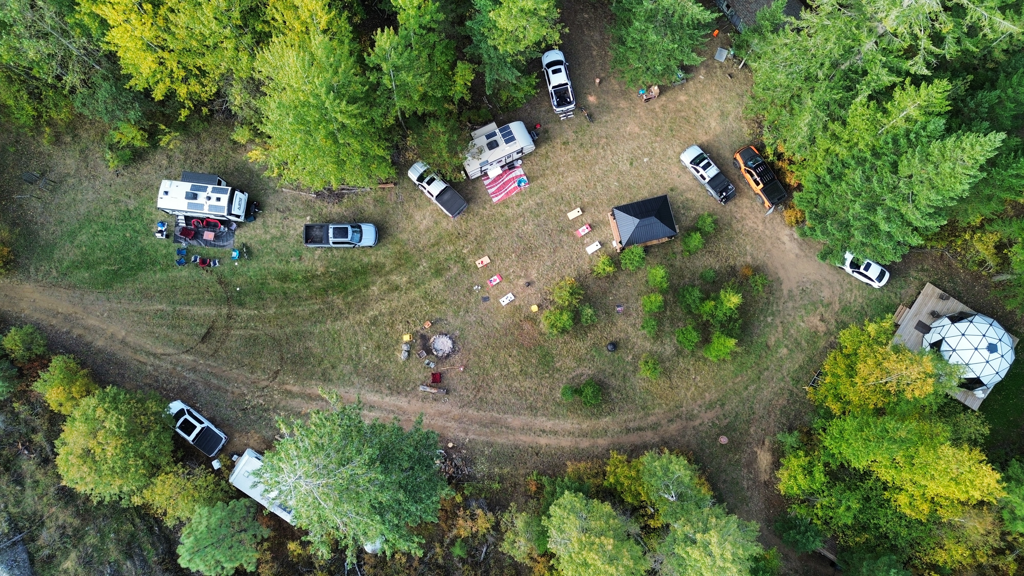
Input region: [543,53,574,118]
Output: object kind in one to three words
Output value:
truck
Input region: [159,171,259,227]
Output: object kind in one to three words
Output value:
trailer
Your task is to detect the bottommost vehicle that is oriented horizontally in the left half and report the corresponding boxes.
[302,221,381,250]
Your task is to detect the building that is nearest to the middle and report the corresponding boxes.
[606,194,678,254]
